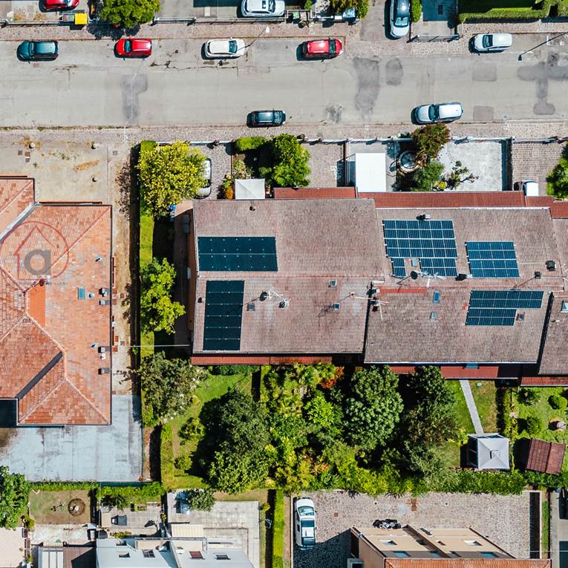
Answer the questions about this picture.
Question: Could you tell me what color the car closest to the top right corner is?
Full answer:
The car closest to the top right corner looks white in the image.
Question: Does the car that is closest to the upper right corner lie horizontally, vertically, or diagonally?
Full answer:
The car that is closest to the upper right corner is laid out horizontally.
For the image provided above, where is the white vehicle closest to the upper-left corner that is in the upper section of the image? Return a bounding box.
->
[204,37,246,59]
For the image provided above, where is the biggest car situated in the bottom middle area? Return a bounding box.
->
[294,498,319,546]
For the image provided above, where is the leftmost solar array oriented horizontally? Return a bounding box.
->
[197,236,279,270]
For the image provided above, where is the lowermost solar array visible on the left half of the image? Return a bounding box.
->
[203,282,245,351]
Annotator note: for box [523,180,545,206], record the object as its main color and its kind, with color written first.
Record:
white car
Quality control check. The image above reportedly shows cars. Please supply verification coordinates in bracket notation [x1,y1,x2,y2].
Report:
[42,0,79,12]
[294,498,319,546]
[195,155,216,198]
[19,38,59,60]
[204,37,246,59]
[240,0,283,17]
[248,108,284,128]
[301,37,341,59]
[116,37,152,58]
[469,31,512,52]
[412,102,463,124]
[523,180,545,206]
[387,0,412,38]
